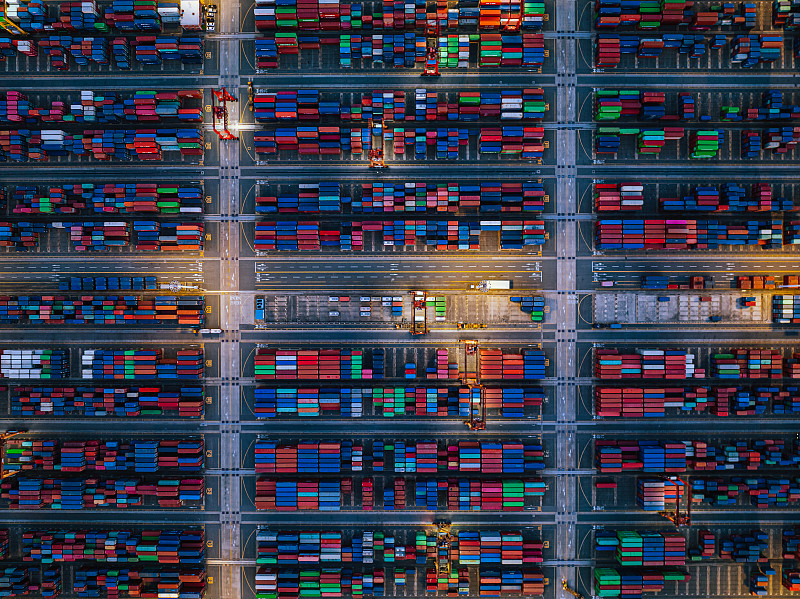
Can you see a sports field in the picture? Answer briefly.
No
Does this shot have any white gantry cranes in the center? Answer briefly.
No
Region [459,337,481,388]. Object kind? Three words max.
container crane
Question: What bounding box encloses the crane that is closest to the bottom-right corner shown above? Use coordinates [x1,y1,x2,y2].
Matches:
[659,471,691,527]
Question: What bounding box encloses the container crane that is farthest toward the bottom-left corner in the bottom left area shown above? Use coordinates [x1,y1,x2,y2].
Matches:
[0,429,26,483]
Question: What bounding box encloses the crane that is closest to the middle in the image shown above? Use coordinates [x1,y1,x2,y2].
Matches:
[409,288,428,336]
